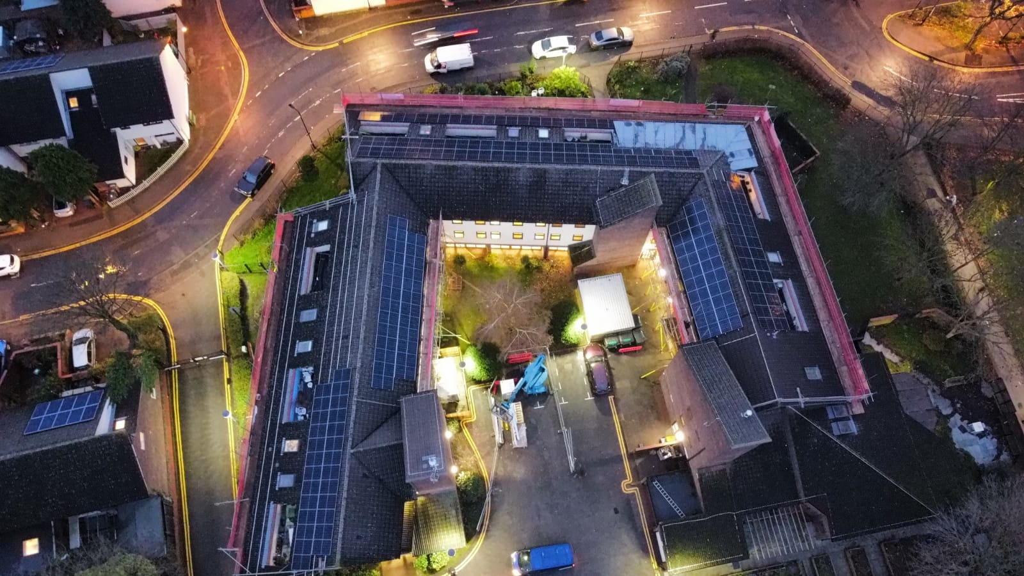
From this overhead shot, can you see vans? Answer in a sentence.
Yes, this view includes a van.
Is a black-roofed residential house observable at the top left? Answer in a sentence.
Yes, you'll find a black-roofed residential house at the top left.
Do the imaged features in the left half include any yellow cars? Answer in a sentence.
No, no yellow car appears in the left half.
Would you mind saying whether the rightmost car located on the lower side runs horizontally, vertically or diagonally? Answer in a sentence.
From this overhead view, the rightmost car located on the lower side appears to run vertically.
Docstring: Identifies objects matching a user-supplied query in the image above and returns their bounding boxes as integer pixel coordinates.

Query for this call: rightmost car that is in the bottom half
[583,344,611,399]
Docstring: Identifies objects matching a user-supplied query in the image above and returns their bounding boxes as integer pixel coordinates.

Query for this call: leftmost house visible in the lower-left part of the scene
[0,379,176,576]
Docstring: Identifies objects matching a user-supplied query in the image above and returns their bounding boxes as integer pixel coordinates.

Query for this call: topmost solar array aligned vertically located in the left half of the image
[372,215,424,390]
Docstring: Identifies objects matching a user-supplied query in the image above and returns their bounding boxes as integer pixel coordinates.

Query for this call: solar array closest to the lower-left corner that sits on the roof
[25,392,104,435]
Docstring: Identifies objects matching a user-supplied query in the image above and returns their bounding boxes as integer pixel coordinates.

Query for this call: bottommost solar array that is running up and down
[292,366,353,571]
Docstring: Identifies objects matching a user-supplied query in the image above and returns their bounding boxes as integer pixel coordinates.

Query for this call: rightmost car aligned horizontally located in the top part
[589,28,634,52]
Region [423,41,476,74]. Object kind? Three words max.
van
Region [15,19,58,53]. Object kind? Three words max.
shed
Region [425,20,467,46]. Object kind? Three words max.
car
